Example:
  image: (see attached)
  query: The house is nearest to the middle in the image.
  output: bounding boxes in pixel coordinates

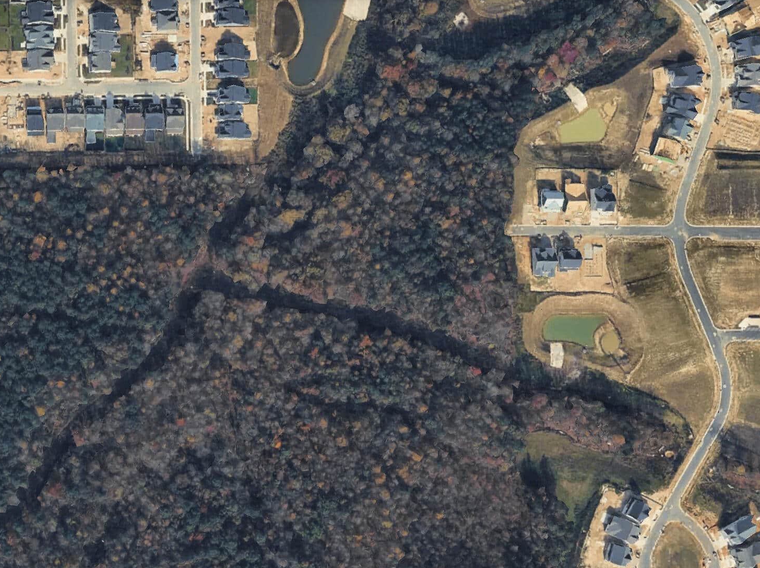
[531,247,558,277]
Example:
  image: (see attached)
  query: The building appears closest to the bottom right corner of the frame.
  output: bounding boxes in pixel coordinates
[726,541,760,568]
